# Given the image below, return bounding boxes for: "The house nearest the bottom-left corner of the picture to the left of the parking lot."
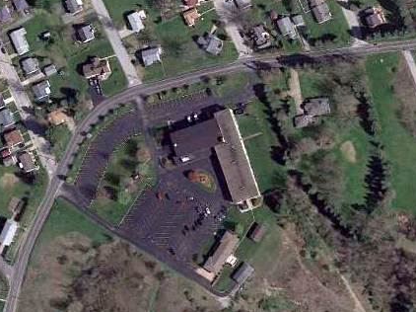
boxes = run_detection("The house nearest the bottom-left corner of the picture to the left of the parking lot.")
[0,217,19,247]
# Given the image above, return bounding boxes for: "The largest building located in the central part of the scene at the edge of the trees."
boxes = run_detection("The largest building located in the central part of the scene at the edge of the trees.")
[169,108,262,212]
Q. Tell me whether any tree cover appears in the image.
Yes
